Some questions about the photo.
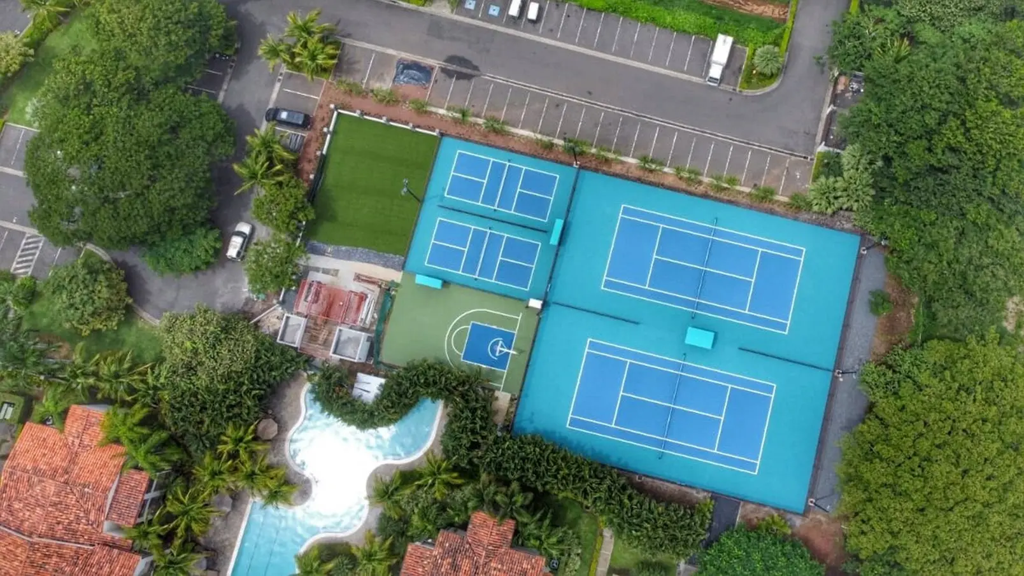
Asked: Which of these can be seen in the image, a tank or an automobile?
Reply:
automobile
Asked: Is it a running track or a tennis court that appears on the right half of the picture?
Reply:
tennis court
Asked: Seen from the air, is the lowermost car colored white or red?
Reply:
white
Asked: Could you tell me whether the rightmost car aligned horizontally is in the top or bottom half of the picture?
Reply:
top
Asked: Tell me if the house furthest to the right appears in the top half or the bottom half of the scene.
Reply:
bottom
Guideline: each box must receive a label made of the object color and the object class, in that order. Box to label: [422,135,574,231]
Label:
blue sports court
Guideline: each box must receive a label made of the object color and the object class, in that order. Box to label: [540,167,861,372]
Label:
blue tennis court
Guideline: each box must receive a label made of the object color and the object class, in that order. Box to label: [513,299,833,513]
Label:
blue tennis court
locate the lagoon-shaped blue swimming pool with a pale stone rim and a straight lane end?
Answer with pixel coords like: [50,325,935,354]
[226,377,442,576]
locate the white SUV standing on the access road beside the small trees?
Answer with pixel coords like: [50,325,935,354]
[226,223,253,260]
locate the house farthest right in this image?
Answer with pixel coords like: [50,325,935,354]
[399,507,545,576]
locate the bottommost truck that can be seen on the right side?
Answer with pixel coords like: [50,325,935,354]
[705,28,736,87]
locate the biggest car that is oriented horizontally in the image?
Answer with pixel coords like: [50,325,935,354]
[270,109,308,129]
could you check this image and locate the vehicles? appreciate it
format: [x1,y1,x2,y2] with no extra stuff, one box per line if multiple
[226,223,253,260]
[270,109,308,129]
[509,0,522,21]
[705,28,736,87]
[528,2,541,25]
